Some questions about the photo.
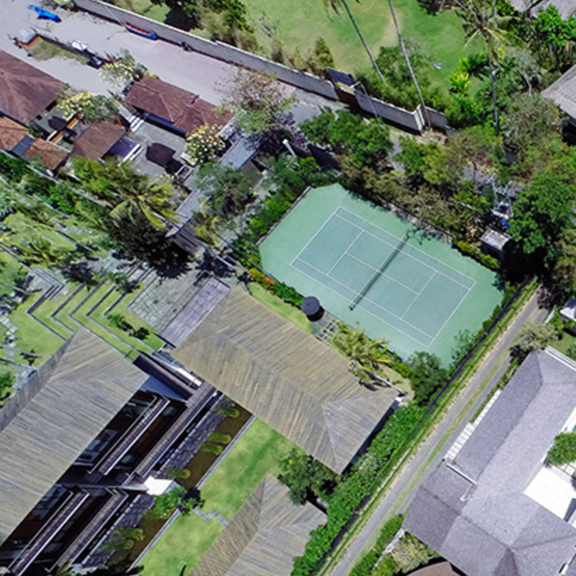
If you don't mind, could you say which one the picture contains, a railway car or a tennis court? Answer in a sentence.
There is a tennis court in the scene.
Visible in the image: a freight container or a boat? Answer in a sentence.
There is a boat in the scene.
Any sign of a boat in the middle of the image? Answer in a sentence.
No, no boat is visible in the middle of the image.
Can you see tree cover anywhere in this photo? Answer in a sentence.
Yes, tree cover shows up in the scene.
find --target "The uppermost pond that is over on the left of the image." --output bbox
[184,413,257,491]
